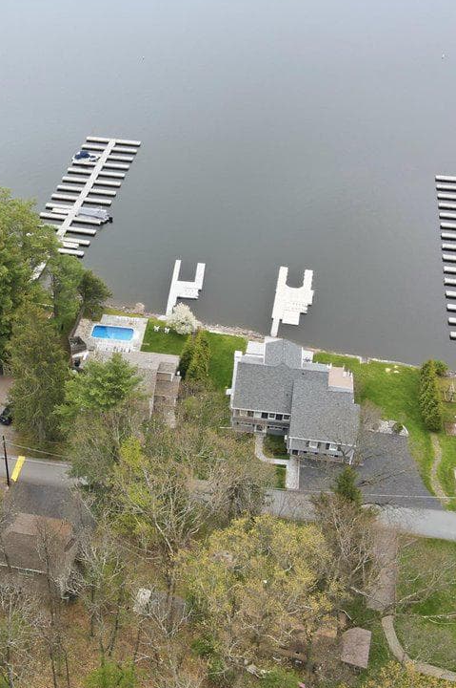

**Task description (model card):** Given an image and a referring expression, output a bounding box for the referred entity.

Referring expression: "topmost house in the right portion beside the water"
[224,336,360,460]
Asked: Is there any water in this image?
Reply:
Yes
